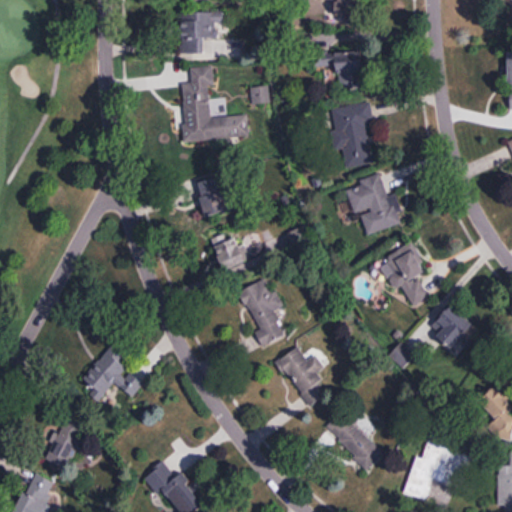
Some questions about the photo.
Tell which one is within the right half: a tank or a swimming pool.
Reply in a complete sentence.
There is a swimming pool within the right half.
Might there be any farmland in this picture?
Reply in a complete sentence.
No, no farmland is visible.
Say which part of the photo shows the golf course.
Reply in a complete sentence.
The golf course appears toward the top left of the photo.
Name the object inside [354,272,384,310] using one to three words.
swimming pool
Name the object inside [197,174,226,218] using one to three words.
house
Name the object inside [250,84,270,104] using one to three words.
building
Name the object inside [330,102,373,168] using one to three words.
house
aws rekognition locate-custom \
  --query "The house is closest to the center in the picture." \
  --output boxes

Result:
[211,232,246,272]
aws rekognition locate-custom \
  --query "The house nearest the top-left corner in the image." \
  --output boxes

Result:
[180,10,224,52]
